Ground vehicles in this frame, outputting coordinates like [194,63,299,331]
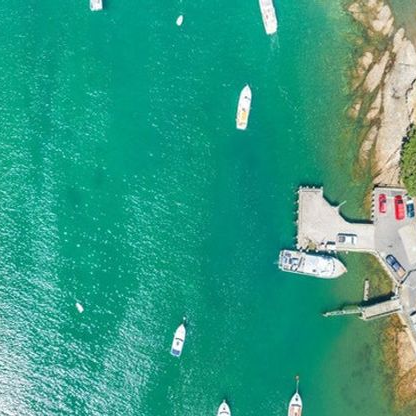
[384,254,406,277]
[408,312,416,332]
[376,194,388,214]
[404,196,416,219]
[392,195,405,220]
